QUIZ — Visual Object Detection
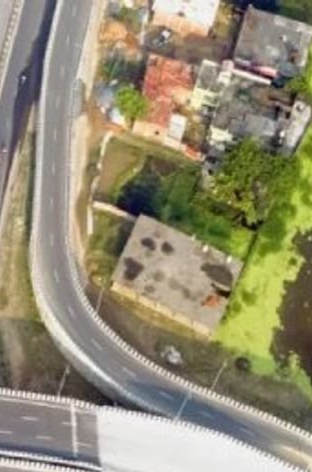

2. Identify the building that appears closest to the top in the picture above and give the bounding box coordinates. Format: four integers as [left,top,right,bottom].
[152,0,218,41]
